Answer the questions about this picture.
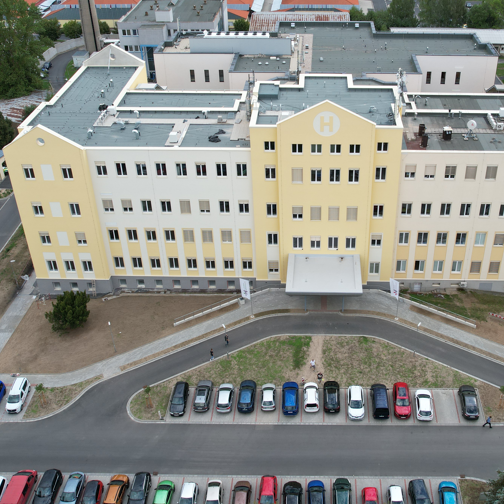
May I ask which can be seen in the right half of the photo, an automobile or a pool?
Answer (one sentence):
Looking in the right half of the photo, you will find an automobile.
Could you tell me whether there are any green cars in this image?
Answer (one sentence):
Yes, the photo shows a green car.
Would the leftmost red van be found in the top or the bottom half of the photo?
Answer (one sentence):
It is in the bottom half that the leftmost red van appears.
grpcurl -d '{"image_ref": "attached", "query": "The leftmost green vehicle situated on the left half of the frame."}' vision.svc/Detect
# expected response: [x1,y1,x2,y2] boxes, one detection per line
[152,481,175,504]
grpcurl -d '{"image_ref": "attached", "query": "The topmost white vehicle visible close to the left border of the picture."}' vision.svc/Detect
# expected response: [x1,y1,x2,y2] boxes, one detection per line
[5,379,33,413]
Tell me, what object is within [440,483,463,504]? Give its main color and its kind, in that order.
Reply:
blue car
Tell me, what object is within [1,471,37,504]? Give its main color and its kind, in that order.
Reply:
red van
